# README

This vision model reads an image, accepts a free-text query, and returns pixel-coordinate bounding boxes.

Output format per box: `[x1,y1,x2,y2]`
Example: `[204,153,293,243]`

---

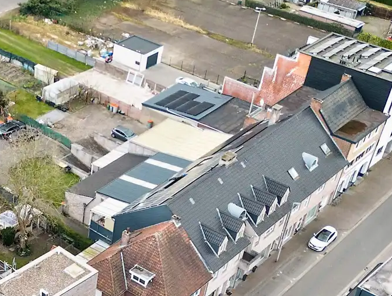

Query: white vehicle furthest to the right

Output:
[307,223,339,251]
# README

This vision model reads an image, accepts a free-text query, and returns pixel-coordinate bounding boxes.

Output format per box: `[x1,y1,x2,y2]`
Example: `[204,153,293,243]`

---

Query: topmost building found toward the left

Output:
[112,35,163,71]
